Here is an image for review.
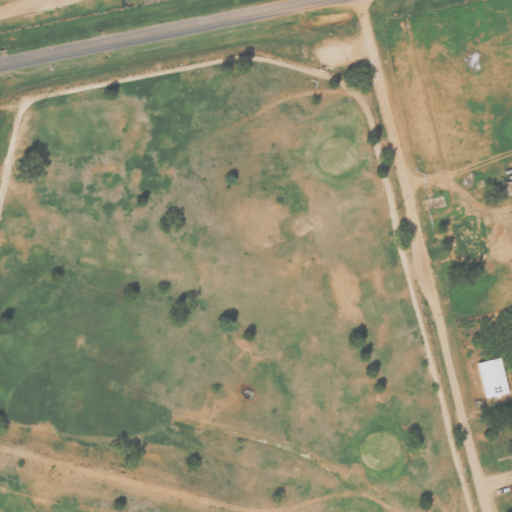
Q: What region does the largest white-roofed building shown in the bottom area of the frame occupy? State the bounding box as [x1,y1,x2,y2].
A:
[478,358,511,399]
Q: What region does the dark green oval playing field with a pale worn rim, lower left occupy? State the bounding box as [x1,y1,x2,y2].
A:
[9,357,171,438]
